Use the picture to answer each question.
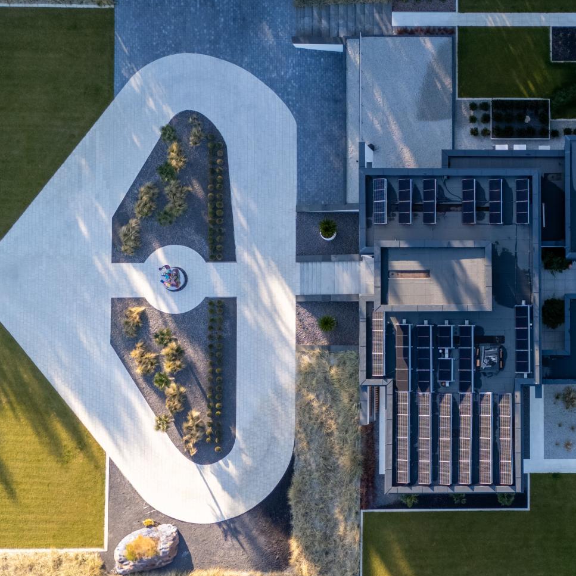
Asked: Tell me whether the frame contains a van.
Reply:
No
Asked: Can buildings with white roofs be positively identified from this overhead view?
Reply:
No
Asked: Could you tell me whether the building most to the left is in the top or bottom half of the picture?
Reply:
top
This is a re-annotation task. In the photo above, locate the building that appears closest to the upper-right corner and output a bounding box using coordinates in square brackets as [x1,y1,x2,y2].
[345,36,454,205]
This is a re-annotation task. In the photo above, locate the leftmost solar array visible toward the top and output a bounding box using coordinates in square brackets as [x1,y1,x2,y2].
[373,177,390,225]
